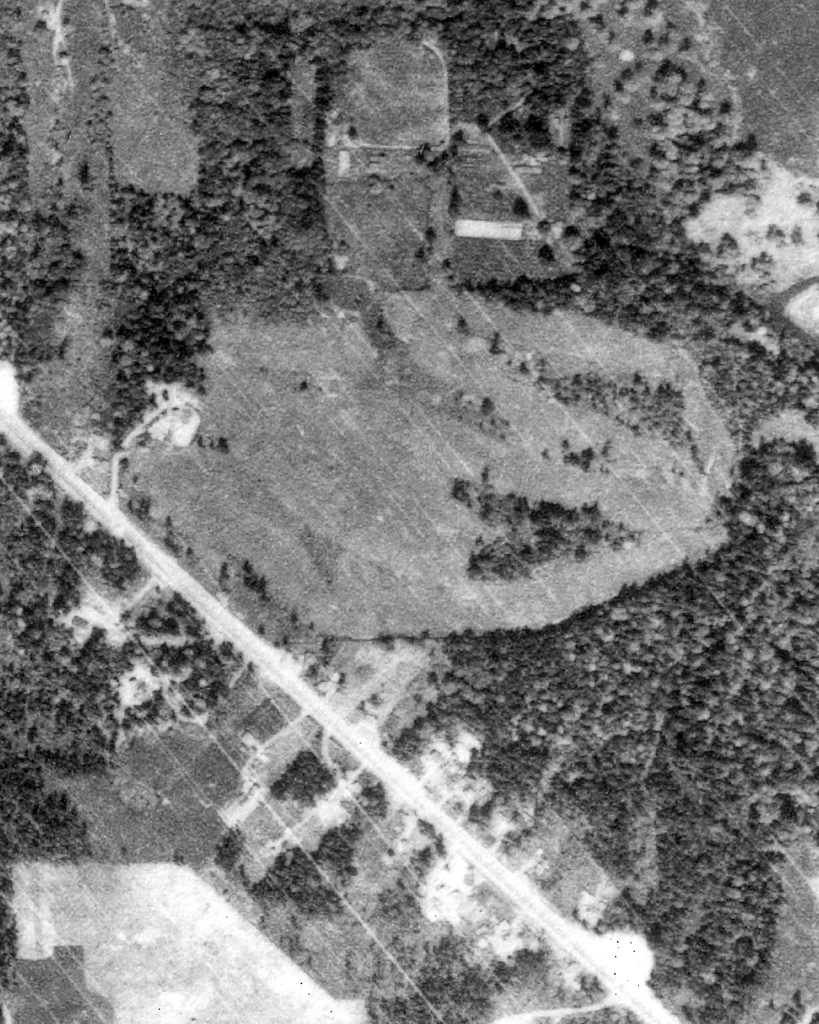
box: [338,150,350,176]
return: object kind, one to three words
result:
barn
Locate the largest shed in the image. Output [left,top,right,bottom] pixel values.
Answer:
[456,219,522,240]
